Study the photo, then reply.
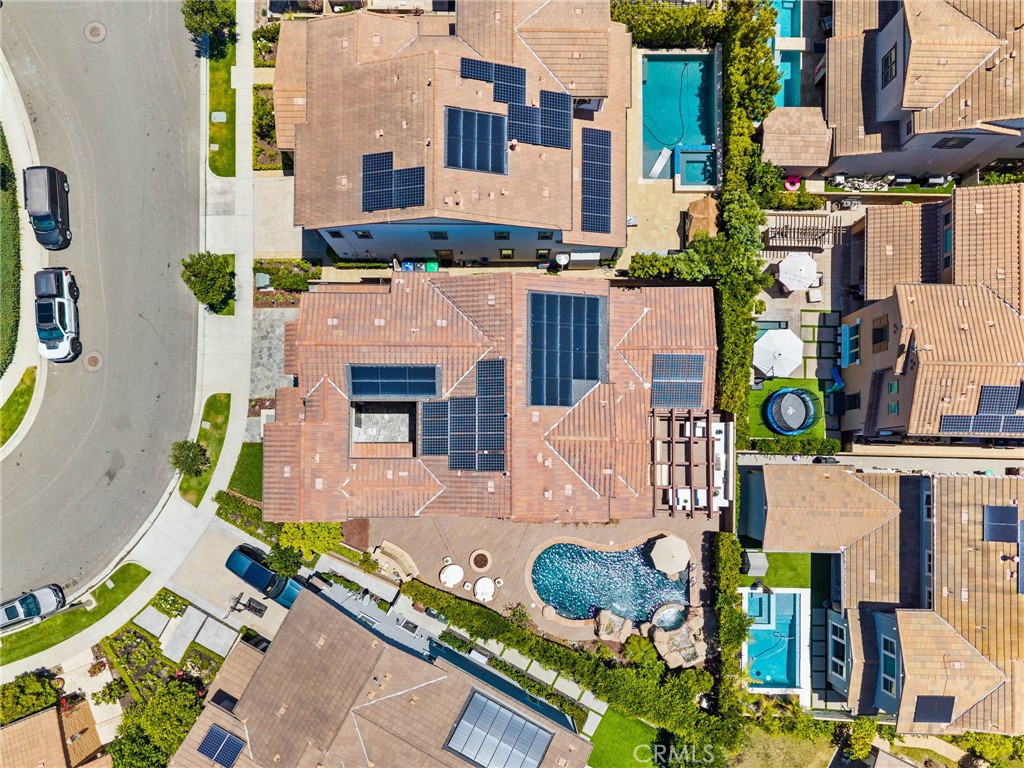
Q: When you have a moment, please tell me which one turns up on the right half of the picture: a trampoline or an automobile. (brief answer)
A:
trampoline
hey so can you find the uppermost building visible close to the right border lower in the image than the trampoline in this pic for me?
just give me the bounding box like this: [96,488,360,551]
[749,466,1024,737]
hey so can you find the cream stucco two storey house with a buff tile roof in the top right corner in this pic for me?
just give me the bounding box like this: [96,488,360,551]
[824,0,1024,176]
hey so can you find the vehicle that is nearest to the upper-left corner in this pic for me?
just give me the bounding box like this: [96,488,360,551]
[22,167,72,249]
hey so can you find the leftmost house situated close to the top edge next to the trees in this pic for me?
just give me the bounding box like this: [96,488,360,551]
[273,0,632,259]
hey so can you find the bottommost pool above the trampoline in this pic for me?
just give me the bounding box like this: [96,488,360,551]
[756,319,790,338]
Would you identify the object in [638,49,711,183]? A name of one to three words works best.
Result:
swimming pool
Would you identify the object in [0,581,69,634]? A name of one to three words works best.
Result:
car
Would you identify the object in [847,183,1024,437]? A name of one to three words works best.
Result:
house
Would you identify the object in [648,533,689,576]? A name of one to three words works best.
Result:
umbrella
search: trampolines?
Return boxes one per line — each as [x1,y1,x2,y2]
[756,385,819,439]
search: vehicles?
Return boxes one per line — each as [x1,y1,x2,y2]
[271,0,303,13]
[30,265,82,362]
[220,548,312,616]
[0,581,69,634]
[22,167,72,249]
